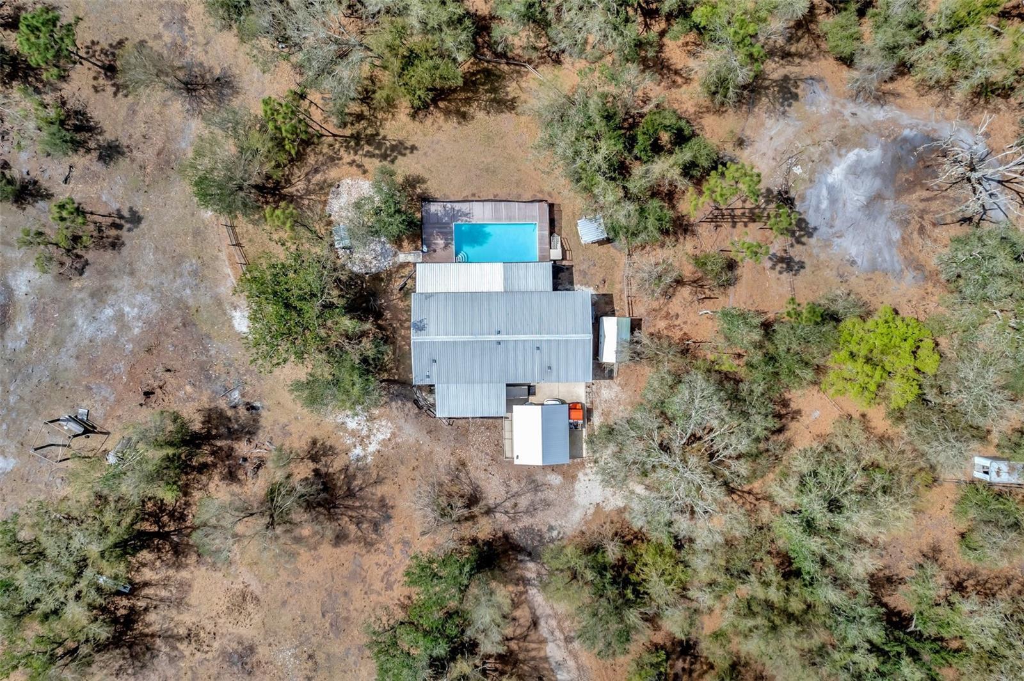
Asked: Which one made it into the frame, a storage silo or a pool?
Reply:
pool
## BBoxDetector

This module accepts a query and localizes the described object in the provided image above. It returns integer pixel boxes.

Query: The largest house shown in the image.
[410,262,593,417]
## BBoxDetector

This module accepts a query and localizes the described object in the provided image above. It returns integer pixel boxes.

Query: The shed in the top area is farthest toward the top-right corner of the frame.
[574,215,608,249]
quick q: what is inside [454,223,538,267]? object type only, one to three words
swimming pool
